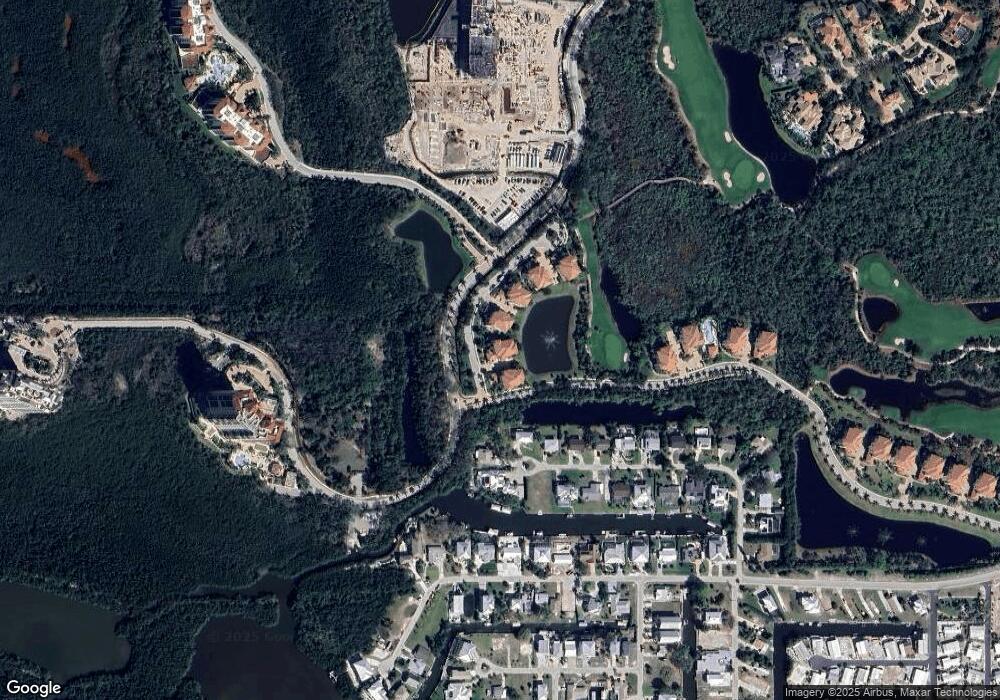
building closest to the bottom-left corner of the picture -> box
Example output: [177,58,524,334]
[0,382,65,413]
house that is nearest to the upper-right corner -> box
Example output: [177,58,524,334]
[939,12,975,47]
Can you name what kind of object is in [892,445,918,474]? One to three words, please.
house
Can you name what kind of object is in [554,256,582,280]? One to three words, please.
house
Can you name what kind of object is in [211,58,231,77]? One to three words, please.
swimming pool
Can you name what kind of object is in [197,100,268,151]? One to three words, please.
building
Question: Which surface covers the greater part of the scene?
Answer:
trees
